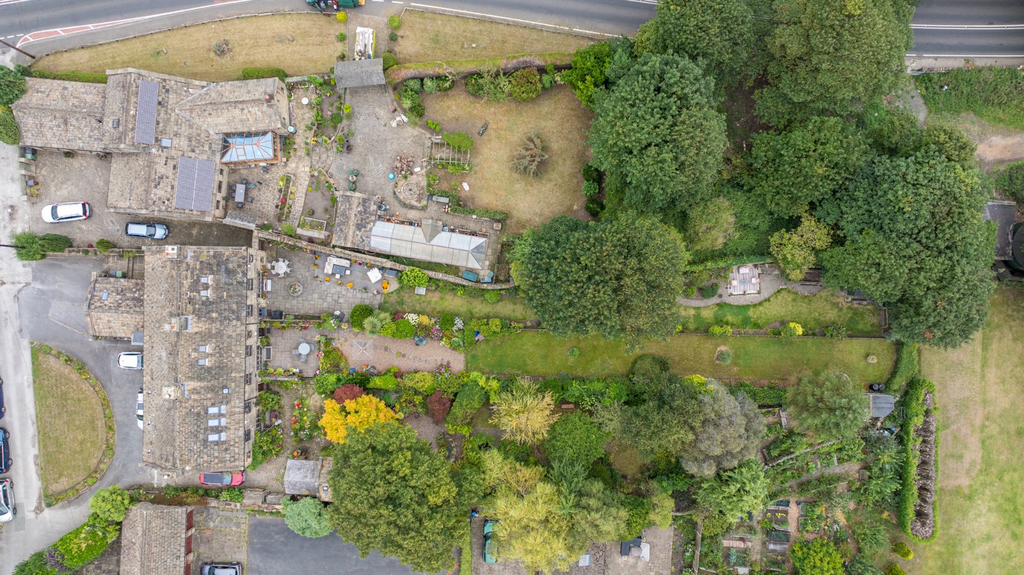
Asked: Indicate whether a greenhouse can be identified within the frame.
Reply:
Yes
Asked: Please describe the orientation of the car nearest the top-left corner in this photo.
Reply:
from side to side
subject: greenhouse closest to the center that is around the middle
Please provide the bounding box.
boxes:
[370,218,488,269]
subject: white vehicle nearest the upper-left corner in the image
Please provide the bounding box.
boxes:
[43,200,92,222]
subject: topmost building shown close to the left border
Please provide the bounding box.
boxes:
[9,66,292,220]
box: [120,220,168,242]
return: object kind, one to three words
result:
car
